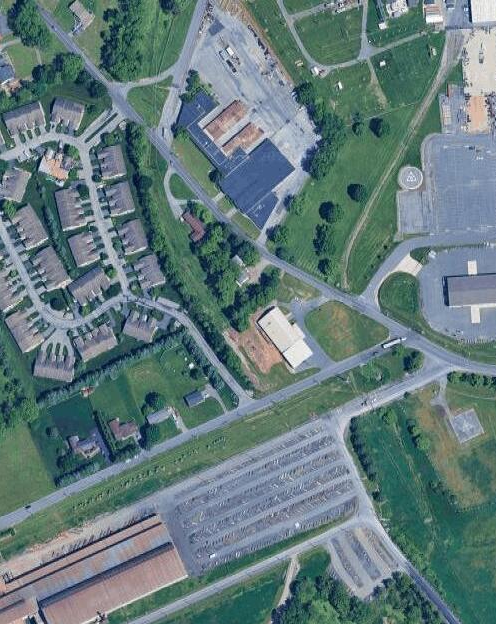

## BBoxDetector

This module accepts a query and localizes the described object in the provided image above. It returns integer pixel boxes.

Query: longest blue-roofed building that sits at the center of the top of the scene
[177,91,296,230]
